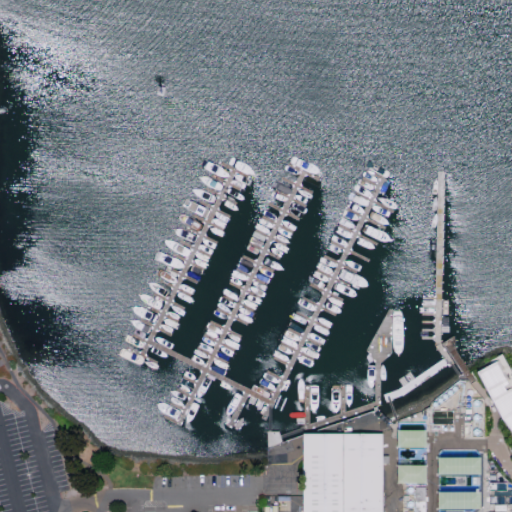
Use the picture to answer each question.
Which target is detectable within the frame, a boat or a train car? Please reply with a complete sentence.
This aerial view contains a boat.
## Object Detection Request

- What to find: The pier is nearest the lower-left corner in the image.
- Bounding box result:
[158,371,203,423]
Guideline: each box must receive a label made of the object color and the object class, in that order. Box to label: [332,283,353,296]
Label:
white boat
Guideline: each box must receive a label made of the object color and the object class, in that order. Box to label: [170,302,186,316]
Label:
white boat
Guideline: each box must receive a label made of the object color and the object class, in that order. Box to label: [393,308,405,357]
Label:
white ship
